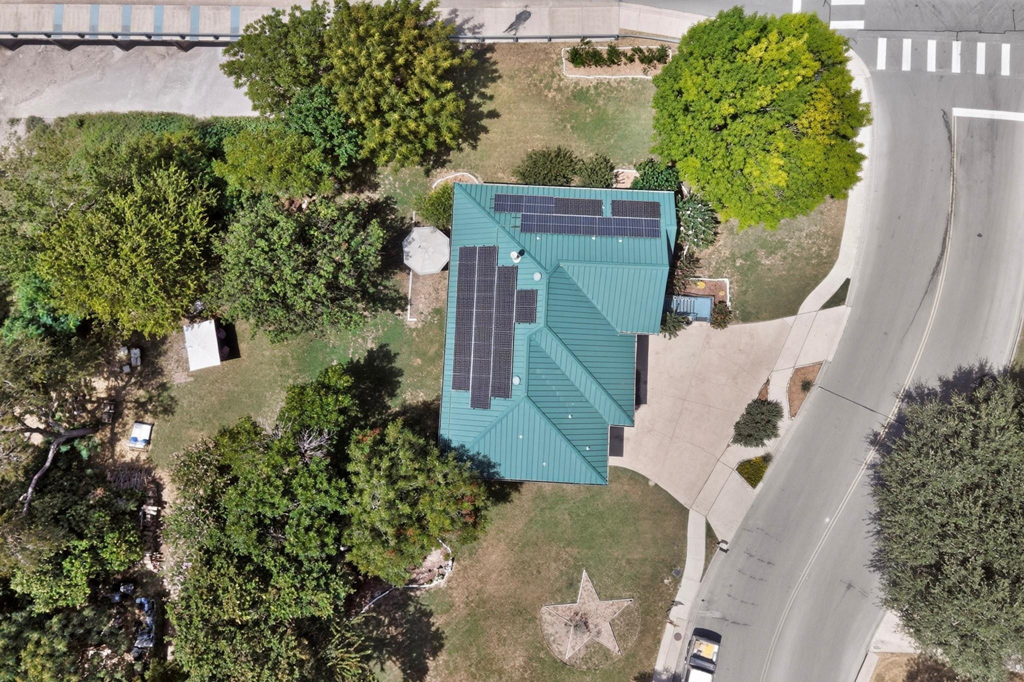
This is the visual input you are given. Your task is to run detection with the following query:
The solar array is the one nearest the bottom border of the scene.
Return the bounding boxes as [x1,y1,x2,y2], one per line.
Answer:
[451,244,536,410]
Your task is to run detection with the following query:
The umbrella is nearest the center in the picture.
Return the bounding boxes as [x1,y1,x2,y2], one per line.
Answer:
[403,227,448,275]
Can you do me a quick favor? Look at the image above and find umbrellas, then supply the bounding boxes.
[403,227,448,275]
[184,319,221,371]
